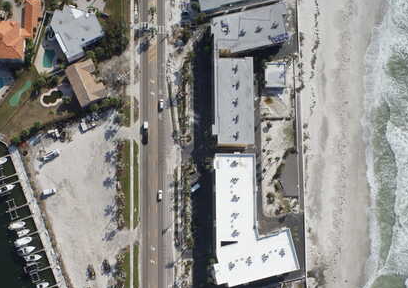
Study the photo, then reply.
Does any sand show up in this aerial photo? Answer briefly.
Yes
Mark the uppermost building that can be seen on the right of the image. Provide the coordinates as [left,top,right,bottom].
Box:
[210,2,288,59]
